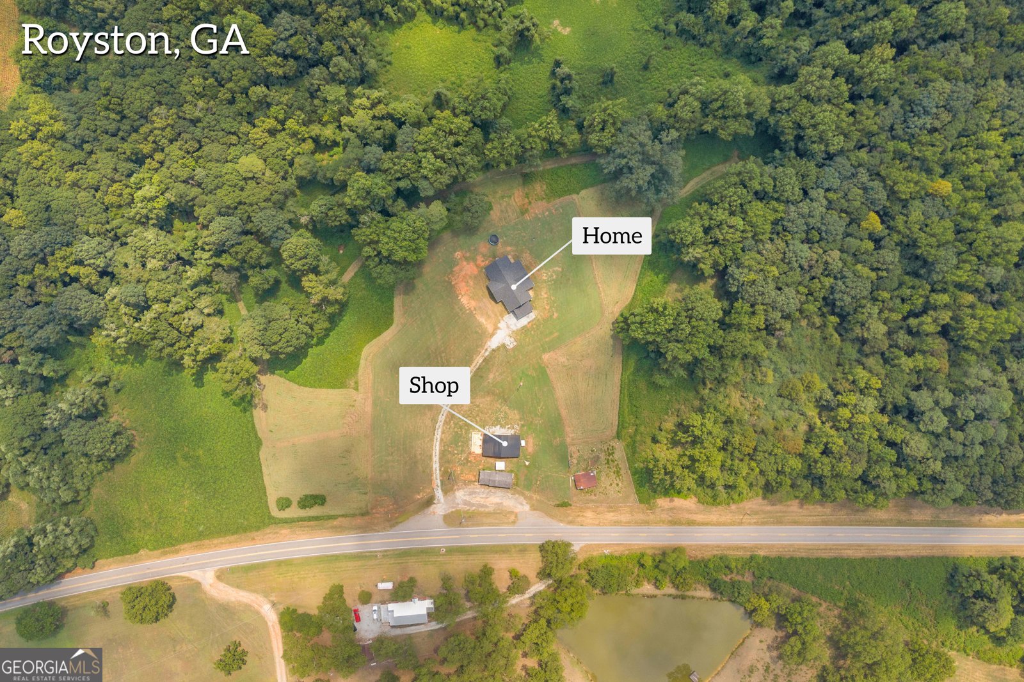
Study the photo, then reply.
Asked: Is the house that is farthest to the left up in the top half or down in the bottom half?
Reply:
bottom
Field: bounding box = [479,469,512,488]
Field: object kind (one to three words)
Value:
shed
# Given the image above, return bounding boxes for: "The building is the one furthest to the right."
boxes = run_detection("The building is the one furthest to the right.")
[574,471,597,489]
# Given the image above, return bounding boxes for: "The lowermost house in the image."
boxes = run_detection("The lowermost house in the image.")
[381,596,434,626]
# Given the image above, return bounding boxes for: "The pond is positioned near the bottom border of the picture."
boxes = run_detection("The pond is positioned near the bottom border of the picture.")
[557,593,752,682]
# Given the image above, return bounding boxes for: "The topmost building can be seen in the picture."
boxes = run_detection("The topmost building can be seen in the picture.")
[484,255,535,322]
